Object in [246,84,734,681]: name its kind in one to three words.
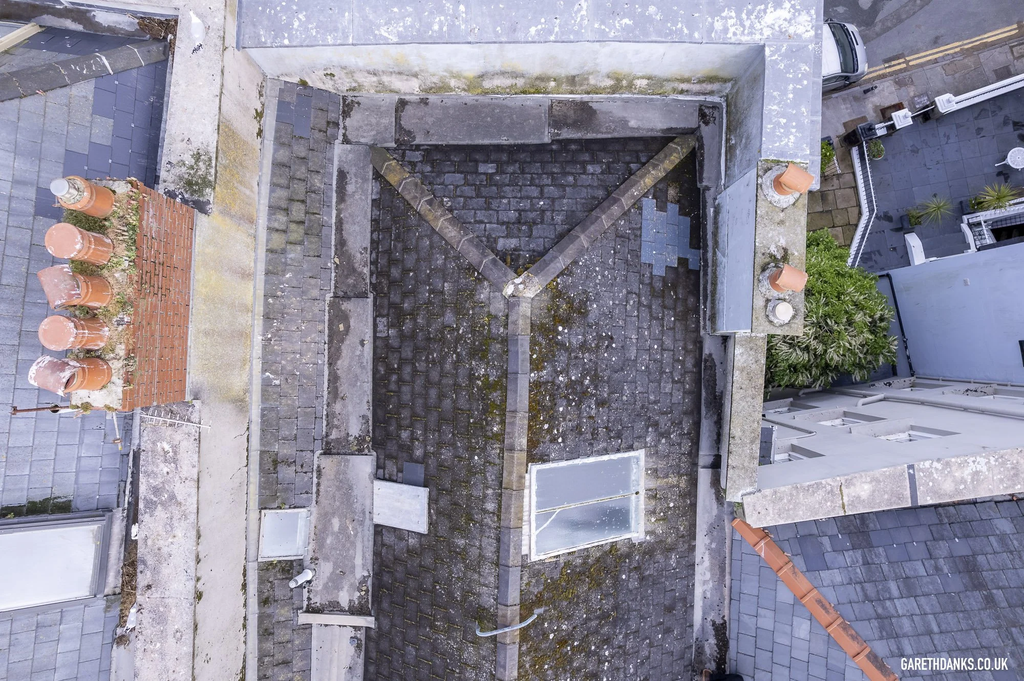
house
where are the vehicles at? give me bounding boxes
[820,21,869,102]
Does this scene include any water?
No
